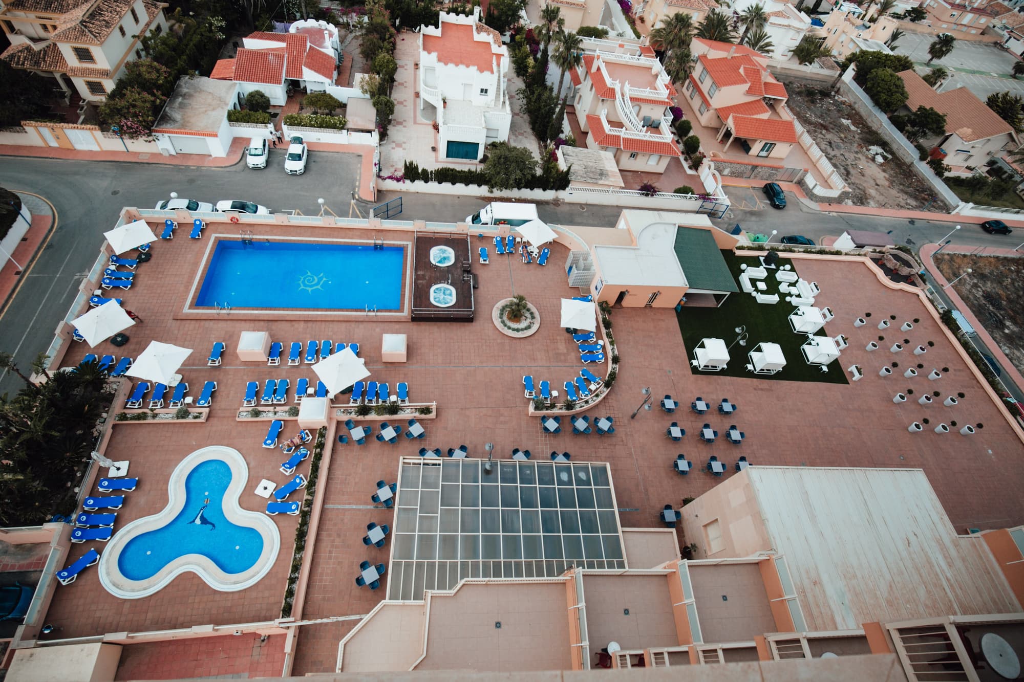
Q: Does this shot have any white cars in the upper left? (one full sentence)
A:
Yes, a white car shows up in the upper left.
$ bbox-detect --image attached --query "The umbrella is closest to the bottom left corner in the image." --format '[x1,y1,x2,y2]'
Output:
[91,452,117,468]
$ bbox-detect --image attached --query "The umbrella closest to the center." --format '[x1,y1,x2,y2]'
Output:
[560,298,596,335]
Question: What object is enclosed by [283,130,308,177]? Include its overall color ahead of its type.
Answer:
white car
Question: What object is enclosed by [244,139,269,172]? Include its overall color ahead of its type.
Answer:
white car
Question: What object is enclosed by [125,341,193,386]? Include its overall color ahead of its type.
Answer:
white umbrella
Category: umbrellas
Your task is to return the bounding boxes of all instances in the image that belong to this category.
[560,298,596,335]
[515,218,558,248]
[71,299,136,349]
[311,348,371,398]
[125,341,193,386]
[91,452,117,468]
[104,219,158,261]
